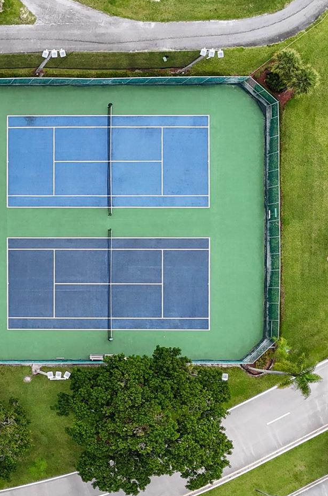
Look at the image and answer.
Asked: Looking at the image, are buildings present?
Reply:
No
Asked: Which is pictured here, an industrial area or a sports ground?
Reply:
sports ground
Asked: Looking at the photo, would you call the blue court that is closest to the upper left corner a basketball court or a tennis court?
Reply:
tennis court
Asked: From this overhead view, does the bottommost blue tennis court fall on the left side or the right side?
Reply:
left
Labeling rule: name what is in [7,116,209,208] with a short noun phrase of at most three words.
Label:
tennis court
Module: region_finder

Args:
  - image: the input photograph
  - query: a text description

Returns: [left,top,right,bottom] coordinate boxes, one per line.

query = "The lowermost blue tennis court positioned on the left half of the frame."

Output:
[7,238,210,330]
